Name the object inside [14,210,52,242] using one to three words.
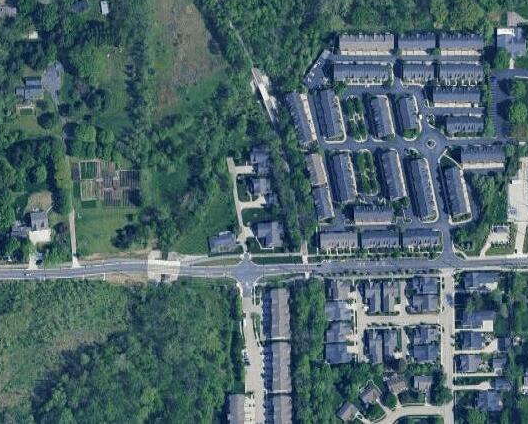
house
